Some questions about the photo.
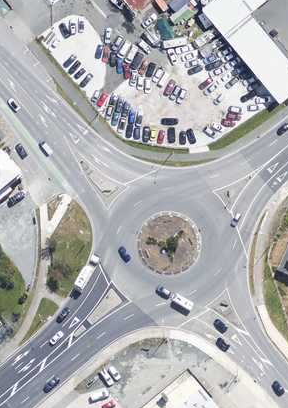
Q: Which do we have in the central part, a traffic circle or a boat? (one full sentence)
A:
What appears in the central part is a traffic circle.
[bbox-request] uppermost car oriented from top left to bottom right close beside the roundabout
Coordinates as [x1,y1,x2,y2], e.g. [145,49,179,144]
[118,247,132,264]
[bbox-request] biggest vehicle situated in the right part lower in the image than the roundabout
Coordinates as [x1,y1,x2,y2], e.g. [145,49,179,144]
[170,295,196,316]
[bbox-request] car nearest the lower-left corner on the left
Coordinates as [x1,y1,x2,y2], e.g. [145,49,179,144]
[44,378,60,392]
